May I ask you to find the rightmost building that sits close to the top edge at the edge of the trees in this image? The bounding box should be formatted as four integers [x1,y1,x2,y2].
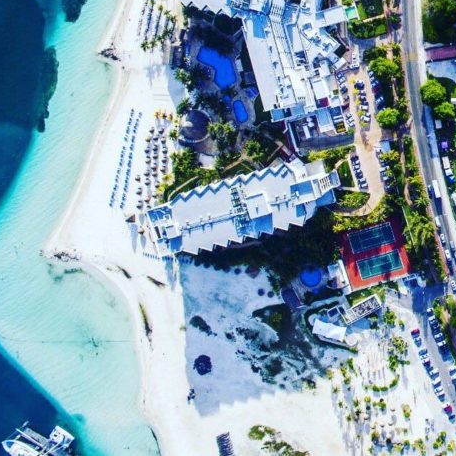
[289,0,362,115]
